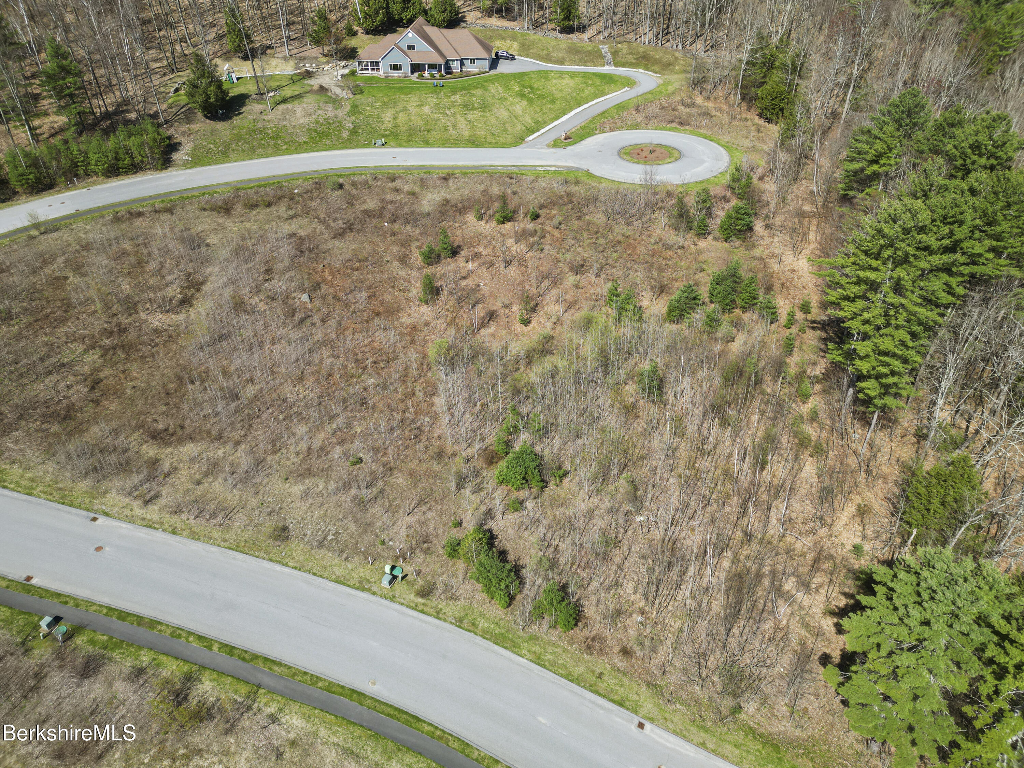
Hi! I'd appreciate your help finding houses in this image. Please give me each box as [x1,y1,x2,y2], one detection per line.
[352,18,494,78]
